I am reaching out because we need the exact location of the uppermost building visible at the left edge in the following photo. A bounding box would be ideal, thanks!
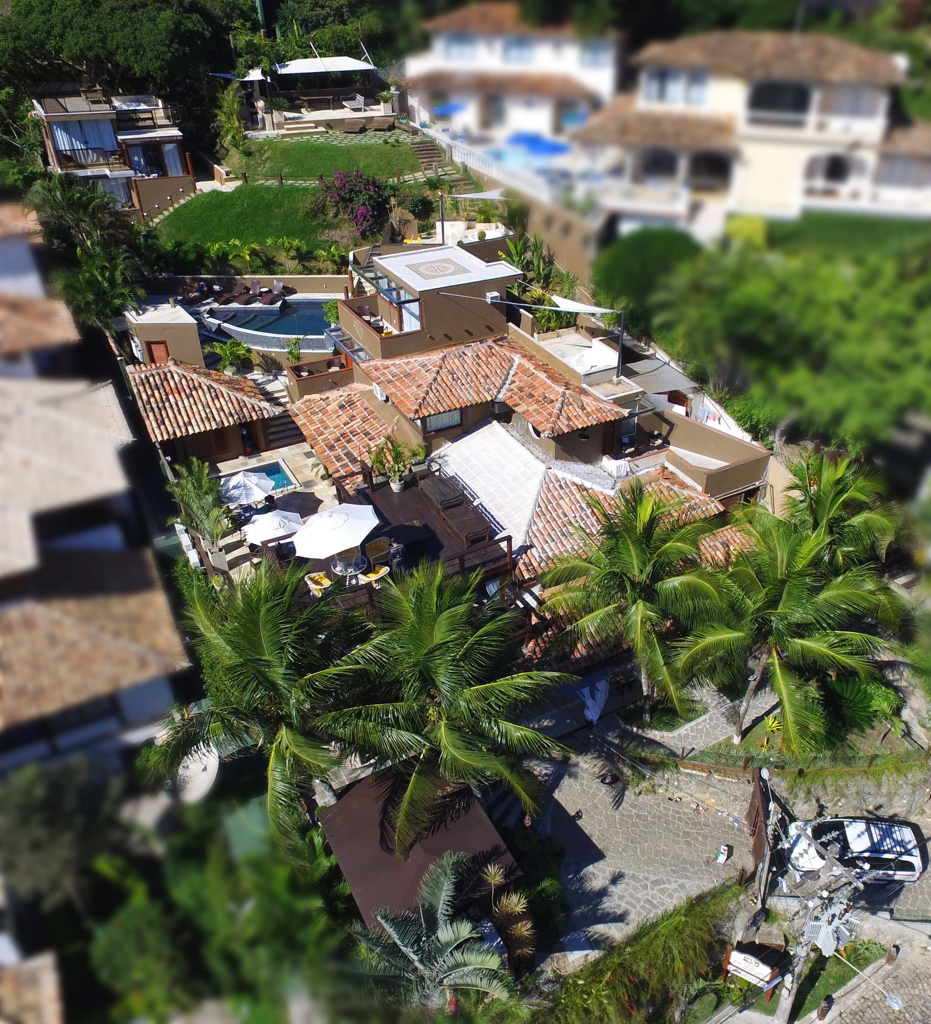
[38,82,199,230]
